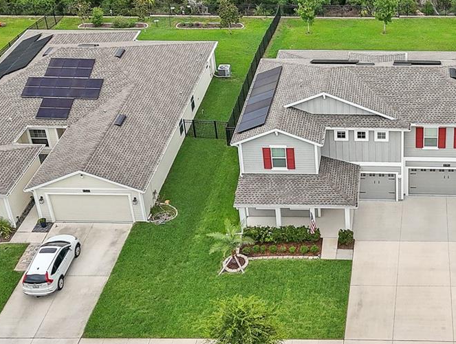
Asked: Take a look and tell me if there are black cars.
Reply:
No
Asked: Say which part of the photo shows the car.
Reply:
bottom left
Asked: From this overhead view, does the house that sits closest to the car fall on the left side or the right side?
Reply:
left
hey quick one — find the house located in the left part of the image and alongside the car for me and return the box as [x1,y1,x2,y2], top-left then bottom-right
[0,30,217,226]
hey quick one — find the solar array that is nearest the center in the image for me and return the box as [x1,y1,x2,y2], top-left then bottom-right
[237,63,281,131]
